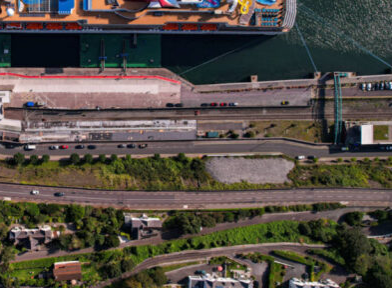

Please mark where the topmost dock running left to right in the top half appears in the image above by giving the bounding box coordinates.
[79,35,162,67]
